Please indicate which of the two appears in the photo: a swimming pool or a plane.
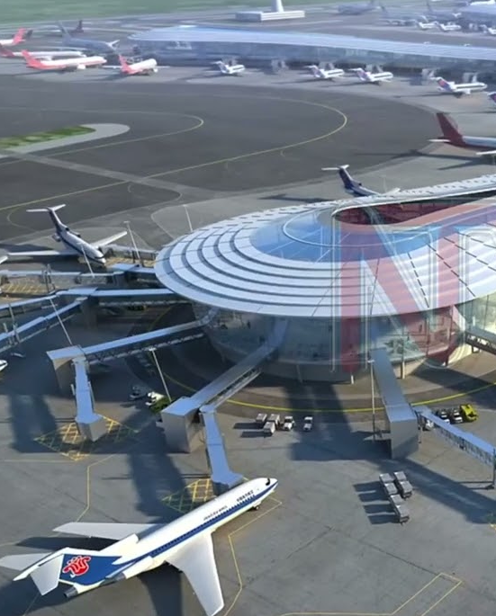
plane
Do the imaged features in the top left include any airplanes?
Yes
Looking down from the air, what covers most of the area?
paved ground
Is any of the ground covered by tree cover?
No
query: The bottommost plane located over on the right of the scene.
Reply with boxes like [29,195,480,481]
[324,164,397,197]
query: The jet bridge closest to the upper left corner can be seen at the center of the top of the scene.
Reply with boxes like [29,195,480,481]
[227,53,241,67]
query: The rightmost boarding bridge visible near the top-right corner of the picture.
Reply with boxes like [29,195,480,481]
[462,66,479,84]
